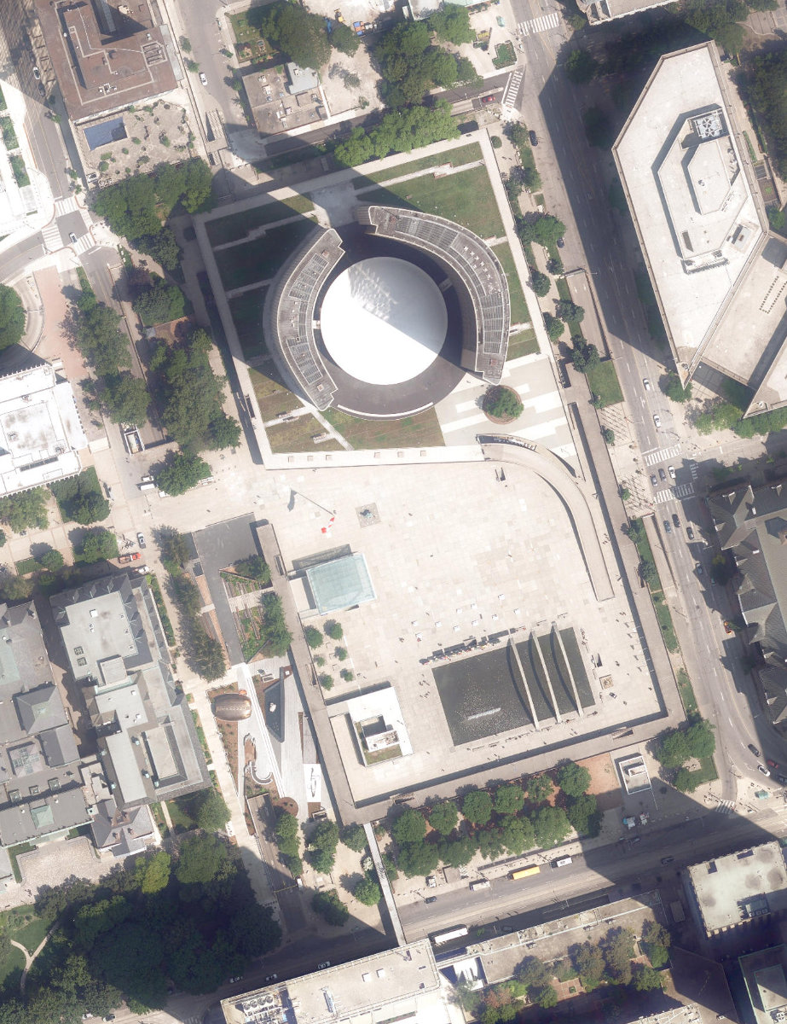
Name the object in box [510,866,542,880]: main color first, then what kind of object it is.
yellow vehicle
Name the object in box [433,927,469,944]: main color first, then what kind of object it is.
white vehicle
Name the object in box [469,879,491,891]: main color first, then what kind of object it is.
white vehicle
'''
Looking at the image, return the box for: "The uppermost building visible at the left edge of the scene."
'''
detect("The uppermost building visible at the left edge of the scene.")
[26,0,183,122]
